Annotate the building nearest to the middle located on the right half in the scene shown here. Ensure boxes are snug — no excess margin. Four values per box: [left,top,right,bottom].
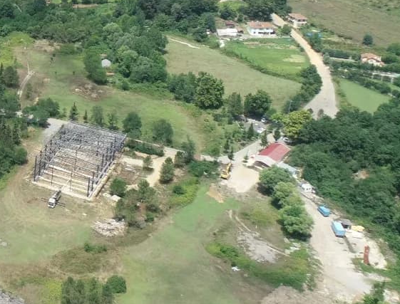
[244,141,283,169]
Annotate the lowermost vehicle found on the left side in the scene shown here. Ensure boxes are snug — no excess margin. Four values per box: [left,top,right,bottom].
[40,185,67,204]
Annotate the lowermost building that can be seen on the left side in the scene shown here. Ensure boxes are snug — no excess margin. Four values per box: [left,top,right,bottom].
[30,117,133,200]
